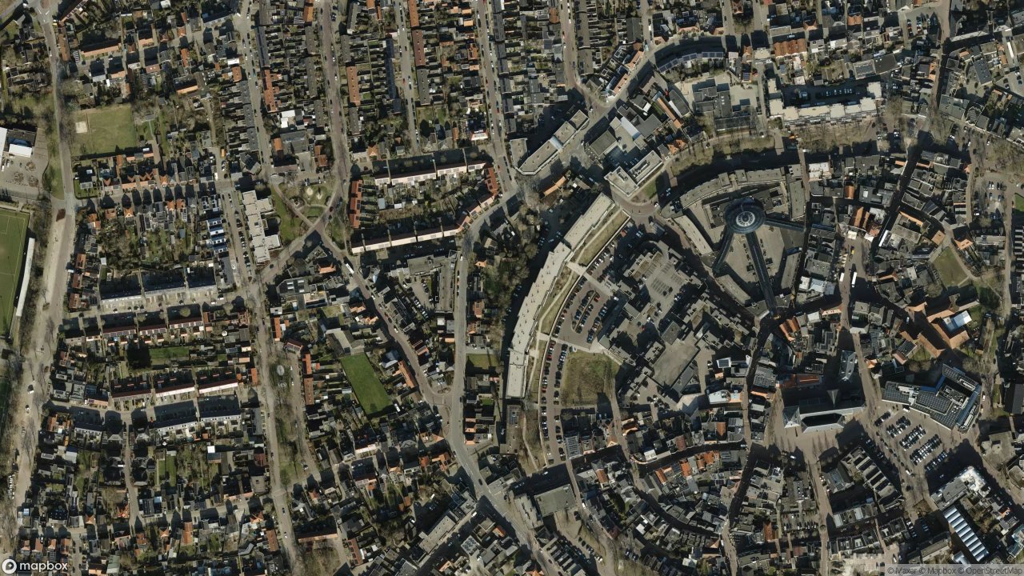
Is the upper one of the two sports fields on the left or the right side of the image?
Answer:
left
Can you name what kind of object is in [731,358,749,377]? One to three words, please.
building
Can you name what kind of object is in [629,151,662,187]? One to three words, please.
building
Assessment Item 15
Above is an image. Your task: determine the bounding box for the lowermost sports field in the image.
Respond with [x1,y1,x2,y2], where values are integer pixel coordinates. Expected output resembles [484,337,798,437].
[0,208,30,334]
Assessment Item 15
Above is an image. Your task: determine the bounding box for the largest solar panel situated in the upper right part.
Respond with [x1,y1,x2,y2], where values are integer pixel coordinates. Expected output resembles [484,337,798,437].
[853,61,875,79]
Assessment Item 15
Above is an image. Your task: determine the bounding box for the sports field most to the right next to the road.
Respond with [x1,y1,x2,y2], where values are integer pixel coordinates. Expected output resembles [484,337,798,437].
[72,104,136,157]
